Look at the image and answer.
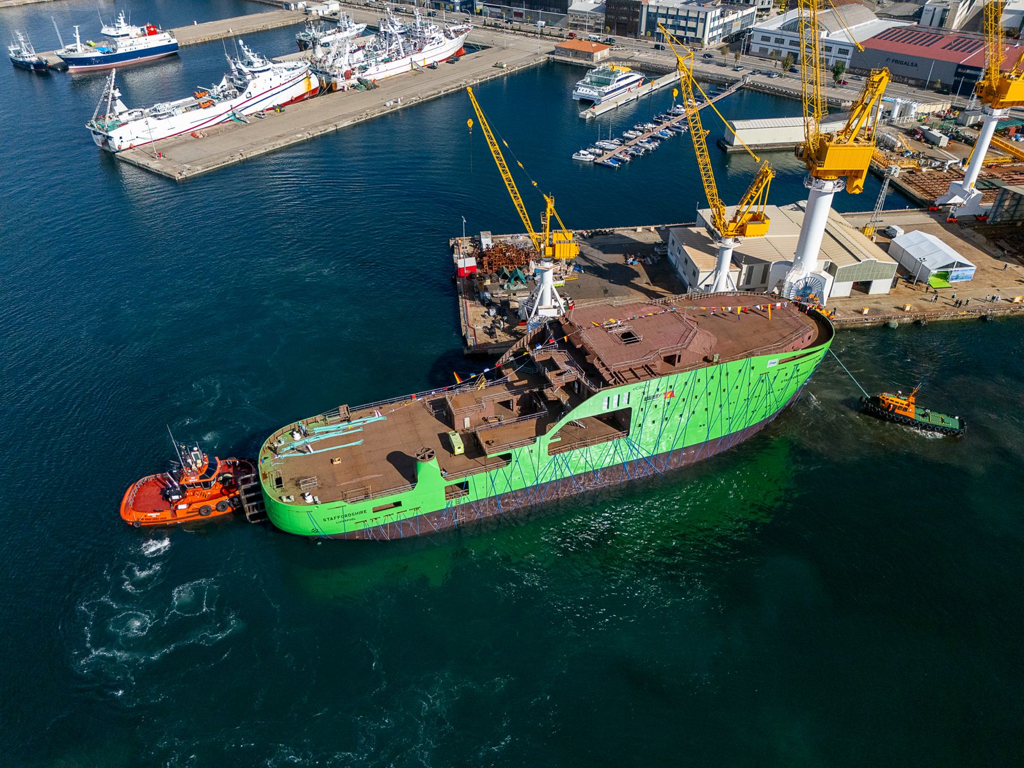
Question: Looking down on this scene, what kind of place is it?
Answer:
port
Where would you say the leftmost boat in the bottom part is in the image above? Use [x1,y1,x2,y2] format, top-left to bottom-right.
[116,442,255,527]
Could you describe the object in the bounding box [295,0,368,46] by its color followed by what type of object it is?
white vessel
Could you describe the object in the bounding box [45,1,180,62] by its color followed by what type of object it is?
white ship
